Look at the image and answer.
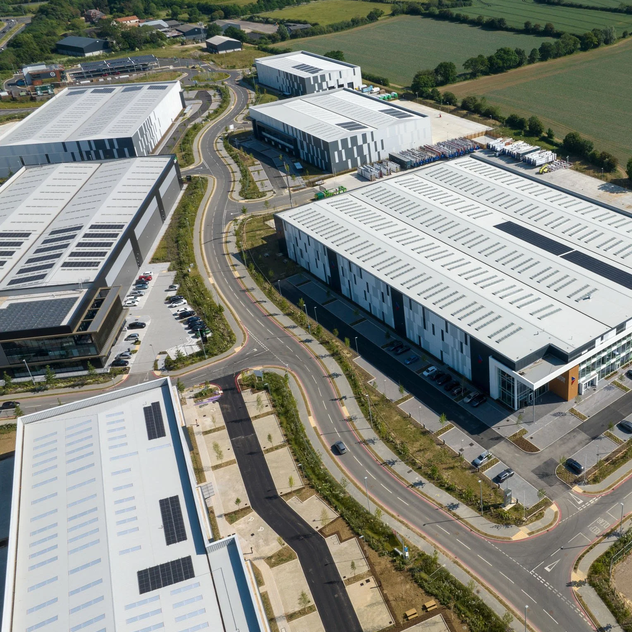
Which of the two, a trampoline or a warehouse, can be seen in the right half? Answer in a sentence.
It is a warehouse that can be seen in the right half.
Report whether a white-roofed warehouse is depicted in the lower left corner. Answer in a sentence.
Yes, a white-roofed warehouse is visible in the lower left corner.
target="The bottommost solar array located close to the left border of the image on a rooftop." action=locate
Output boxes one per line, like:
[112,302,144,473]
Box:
[0,297,72,331]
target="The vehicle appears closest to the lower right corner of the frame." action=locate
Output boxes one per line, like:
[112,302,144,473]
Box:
[564,456,585,473]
